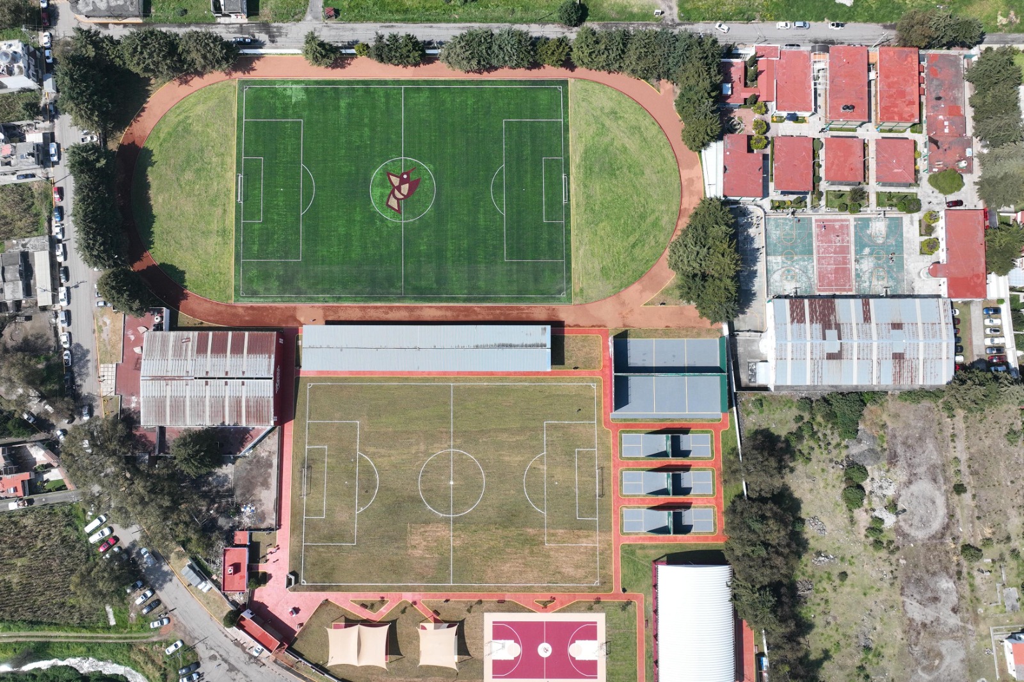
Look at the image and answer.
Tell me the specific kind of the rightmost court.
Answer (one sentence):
Specifically, the rightmost court is a basketball court.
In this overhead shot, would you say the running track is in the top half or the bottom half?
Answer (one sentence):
You can find the running track in the top half.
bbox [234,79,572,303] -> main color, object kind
green soccer field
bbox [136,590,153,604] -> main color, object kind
white car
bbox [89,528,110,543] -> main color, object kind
white vehicle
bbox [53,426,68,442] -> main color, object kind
white car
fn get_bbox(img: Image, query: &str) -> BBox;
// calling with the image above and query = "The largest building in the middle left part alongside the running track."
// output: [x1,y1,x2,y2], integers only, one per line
[140,331,283,425]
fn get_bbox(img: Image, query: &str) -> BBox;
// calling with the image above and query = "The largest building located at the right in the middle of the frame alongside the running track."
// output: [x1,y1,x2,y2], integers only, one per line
[767,298,955,391]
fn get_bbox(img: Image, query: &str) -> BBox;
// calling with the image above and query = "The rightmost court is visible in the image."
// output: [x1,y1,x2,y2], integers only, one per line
[854,217,905,295]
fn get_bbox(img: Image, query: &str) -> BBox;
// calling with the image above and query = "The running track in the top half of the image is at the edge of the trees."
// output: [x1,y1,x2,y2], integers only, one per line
[113,55,736,329]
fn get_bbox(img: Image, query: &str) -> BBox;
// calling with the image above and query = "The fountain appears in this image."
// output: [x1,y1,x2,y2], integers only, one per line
[726,116,745,134]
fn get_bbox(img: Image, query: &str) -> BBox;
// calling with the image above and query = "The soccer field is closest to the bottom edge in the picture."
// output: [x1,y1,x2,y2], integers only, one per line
[297,380,603,589]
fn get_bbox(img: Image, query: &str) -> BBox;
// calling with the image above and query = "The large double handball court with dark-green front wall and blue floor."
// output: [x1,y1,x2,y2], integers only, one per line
[609,333,732,418]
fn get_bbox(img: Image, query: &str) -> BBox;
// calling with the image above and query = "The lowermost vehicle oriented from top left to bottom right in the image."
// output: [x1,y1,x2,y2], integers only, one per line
[138,546,155,564]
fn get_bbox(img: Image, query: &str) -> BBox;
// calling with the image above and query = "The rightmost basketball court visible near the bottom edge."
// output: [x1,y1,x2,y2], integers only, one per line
[484,613,606,682]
